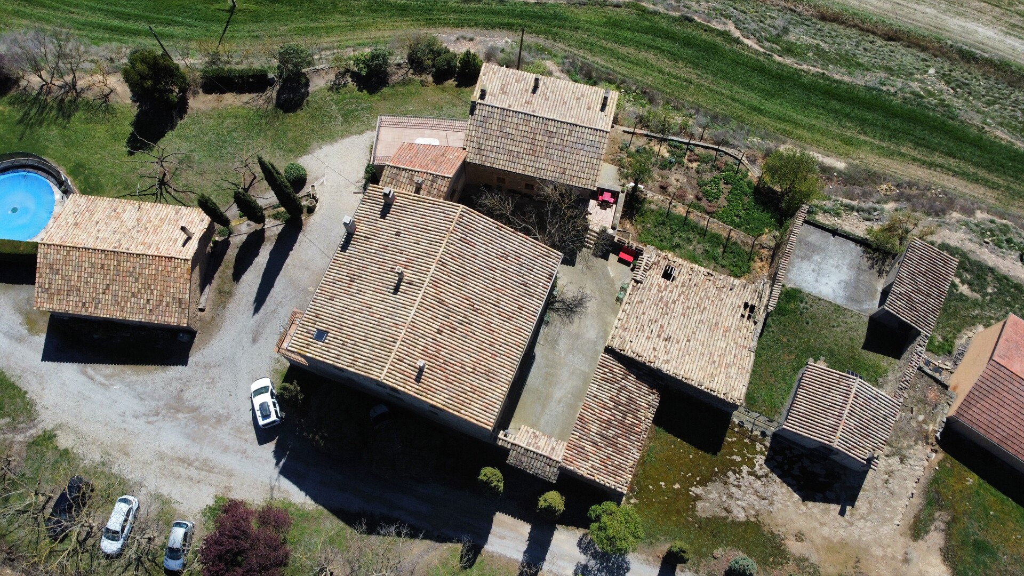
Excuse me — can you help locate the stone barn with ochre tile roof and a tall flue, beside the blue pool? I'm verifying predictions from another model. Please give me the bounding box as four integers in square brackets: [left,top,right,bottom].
[34,193,224,334]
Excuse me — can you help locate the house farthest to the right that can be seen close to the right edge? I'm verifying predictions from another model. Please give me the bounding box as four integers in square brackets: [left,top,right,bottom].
[933,313,1024,468]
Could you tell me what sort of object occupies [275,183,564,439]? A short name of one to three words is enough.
house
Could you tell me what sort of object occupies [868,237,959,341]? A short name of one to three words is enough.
shed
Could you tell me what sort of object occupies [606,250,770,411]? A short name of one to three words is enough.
barn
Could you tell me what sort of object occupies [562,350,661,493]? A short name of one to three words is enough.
shed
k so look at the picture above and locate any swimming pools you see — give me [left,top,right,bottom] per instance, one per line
[0,161,68,242]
